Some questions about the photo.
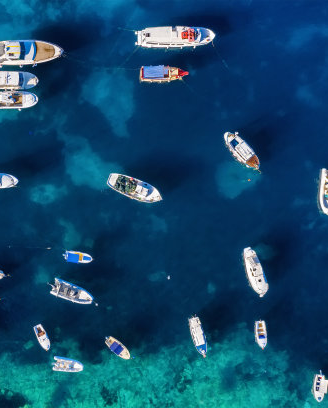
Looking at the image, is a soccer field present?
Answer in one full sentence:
No, no soccer field is visible in the view.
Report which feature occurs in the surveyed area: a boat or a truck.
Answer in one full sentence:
Visible in the photo is a boat.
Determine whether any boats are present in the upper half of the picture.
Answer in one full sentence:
Yes, in the upper half of the picture there is a boat.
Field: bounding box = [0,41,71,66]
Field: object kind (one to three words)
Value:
boat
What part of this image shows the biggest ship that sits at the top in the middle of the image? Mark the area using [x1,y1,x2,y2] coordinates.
[117,24,228,68]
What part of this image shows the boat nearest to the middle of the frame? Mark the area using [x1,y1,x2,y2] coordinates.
[104,174,165,202]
